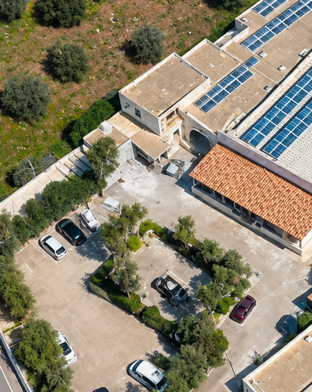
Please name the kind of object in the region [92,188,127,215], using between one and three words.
vehicle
